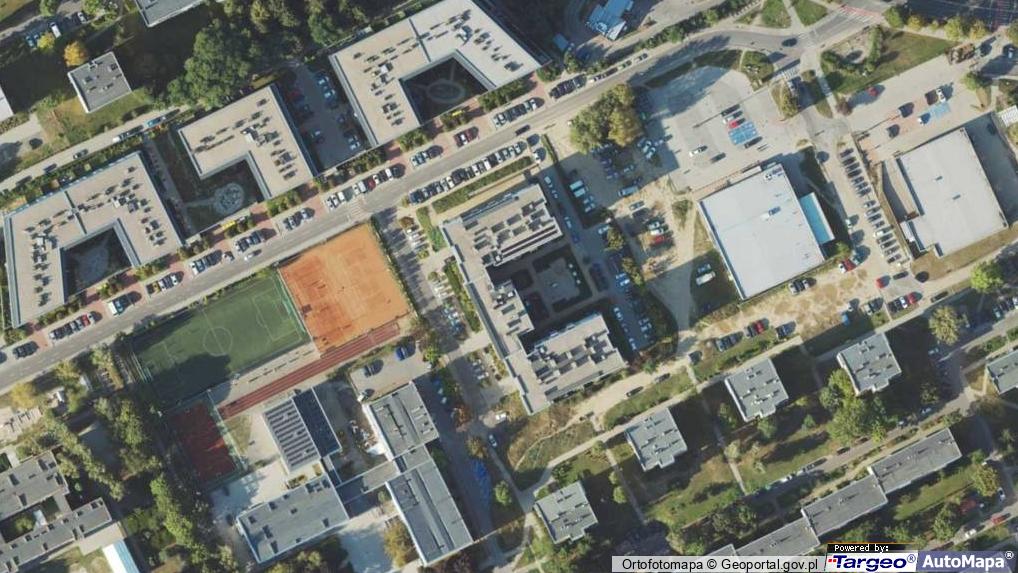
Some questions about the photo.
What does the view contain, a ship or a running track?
running track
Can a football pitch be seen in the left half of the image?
Yes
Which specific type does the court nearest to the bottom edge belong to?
basketball court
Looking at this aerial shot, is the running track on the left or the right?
left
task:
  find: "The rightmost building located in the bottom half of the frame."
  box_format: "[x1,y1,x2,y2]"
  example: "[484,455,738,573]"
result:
[981,346,1018,407]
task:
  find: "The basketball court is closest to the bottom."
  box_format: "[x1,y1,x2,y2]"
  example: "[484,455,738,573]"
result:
[160,391,250,494]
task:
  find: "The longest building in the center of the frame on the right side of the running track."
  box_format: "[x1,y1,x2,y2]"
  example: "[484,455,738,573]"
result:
[435,183,629,415]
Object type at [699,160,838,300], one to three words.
building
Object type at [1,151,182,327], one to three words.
building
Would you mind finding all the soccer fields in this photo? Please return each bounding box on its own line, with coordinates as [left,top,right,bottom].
[132,270,312,409]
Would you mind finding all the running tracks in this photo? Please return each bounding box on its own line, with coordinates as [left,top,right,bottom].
[219,317,413,419]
